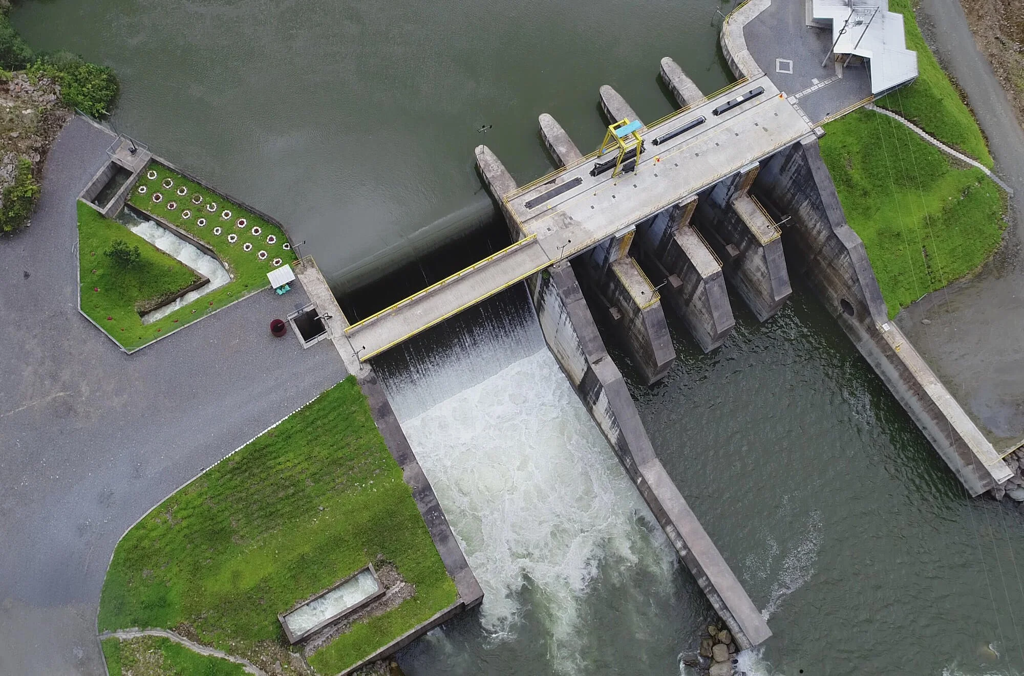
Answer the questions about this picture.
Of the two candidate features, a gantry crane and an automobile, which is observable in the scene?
gantry crane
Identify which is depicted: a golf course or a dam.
dam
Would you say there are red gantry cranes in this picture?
No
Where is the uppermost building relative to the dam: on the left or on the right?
right of it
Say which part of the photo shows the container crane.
top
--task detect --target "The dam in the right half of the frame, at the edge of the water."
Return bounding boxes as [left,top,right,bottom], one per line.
[507,58,811,382]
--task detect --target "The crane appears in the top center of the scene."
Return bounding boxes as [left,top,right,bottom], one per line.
[597,114,645,178]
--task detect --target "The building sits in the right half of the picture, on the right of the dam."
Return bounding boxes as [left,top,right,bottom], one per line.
[806,0,921,103]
